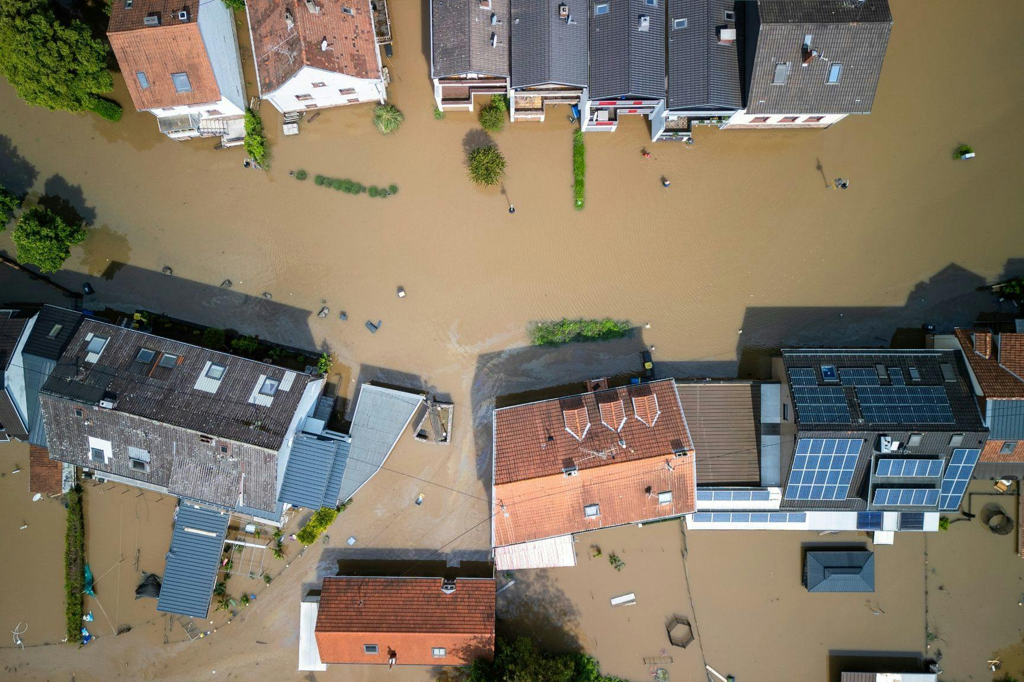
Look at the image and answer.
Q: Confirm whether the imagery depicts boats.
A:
No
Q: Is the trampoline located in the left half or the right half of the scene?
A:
right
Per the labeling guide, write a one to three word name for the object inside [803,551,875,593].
building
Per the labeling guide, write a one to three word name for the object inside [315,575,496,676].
house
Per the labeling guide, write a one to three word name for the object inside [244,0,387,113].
house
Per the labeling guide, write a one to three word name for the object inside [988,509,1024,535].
trampoline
